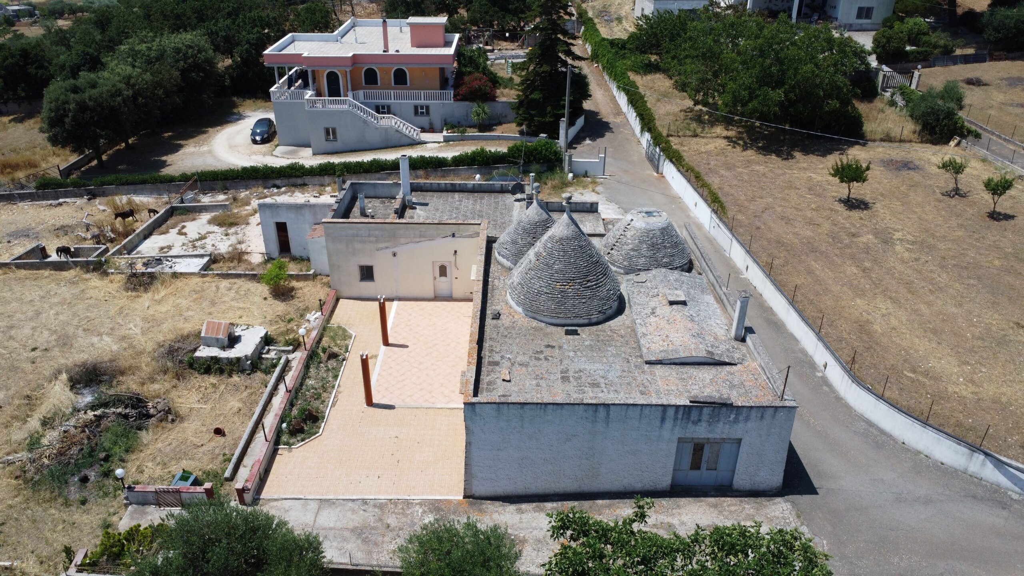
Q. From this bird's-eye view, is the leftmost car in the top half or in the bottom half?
top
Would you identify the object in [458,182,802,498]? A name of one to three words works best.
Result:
building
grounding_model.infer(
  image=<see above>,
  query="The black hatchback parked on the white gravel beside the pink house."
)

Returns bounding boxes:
[241,110,277,140]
